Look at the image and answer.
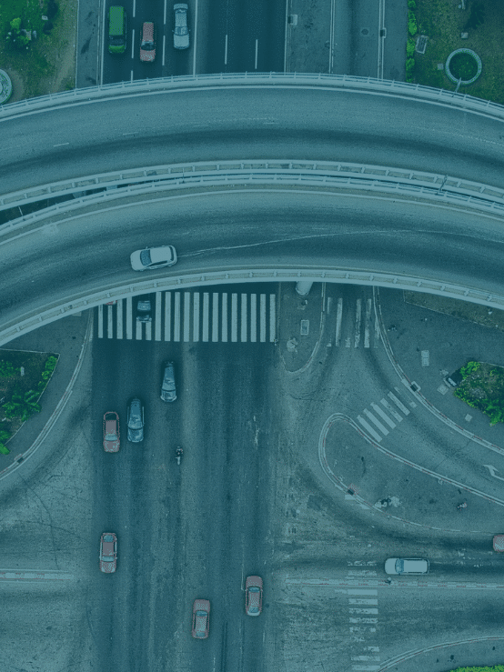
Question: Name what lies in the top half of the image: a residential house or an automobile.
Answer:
automobile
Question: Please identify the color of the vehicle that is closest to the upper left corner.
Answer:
green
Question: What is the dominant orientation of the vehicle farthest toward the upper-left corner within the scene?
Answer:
from top to bottom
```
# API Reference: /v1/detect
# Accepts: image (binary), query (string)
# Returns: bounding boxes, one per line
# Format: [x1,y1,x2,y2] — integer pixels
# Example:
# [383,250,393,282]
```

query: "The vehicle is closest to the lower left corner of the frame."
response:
[98,532,117,574]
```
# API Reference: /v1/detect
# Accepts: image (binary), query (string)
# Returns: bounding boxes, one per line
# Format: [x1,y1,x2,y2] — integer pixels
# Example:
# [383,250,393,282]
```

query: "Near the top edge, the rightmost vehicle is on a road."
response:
[171,2,190,45]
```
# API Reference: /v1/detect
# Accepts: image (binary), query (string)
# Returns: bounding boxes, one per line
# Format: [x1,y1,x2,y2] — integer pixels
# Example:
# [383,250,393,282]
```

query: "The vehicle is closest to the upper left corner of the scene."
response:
[106,1,126,50]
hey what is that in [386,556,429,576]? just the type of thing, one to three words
car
